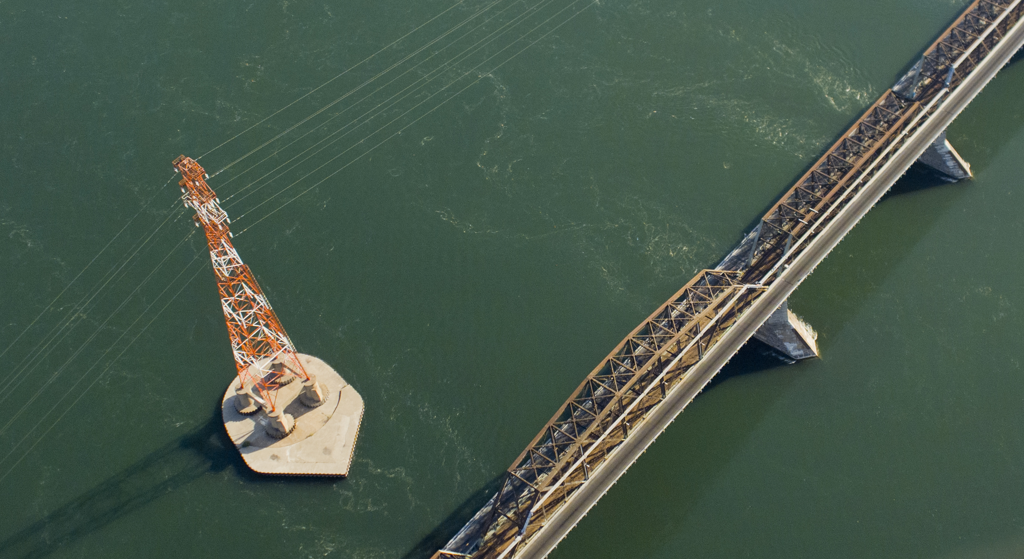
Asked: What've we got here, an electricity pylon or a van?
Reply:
electricity pylon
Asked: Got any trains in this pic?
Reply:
No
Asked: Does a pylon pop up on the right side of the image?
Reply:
No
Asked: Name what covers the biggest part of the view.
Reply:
water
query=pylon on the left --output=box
[172,153,312,412]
